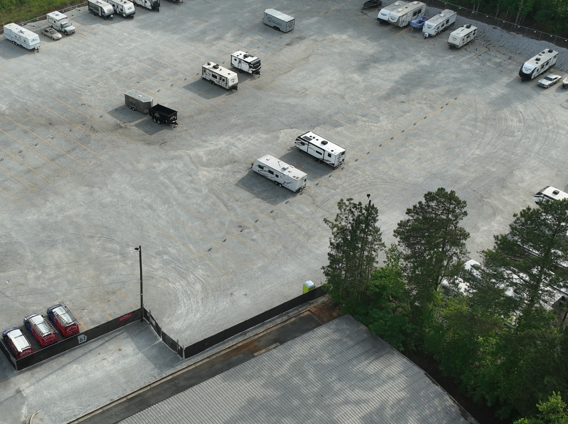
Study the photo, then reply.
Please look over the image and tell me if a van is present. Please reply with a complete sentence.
Yes, there is a van in the image.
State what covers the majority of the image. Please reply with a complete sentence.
The largest share of the image is taken up by paved ground.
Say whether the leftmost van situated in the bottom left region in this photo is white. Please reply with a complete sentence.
Yes, the leftmost van situated in the bottom left region is indeed white.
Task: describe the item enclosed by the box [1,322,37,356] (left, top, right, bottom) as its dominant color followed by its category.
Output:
white van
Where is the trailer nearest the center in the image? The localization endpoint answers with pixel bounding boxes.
[255,156,308,194]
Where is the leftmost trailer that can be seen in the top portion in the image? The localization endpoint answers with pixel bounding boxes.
[5,23,44,54]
